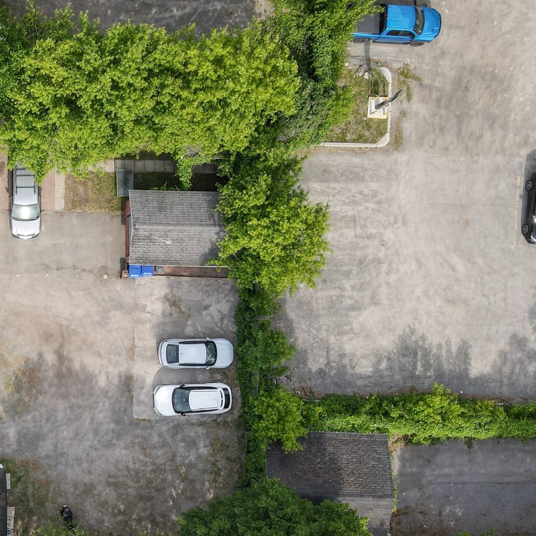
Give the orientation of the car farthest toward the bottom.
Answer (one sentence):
The car farthest toward the bottom is oriented from left to right.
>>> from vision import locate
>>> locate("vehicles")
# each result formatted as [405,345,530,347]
[520,173,536,245]
[344,3,443,47]
[156,336,232,371]
[152,381,231,418]
[7,159,43,238]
